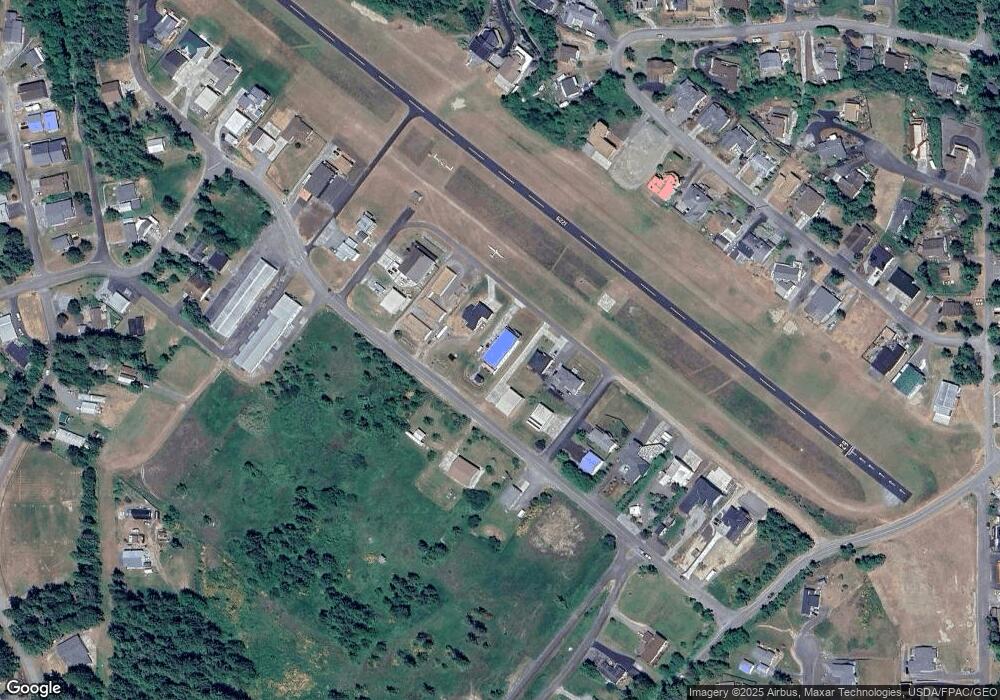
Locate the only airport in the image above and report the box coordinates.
[271,0,912,542]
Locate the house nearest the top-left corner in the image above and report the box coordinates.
[3,10,24,45]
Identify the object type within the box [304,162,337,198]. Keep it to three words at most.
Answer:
hangar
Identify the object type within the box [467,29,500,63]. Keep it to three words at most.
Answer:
house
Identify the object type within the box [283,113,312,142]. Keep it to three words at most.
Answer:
house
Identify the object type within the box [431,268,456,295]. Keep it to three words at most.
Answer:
building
